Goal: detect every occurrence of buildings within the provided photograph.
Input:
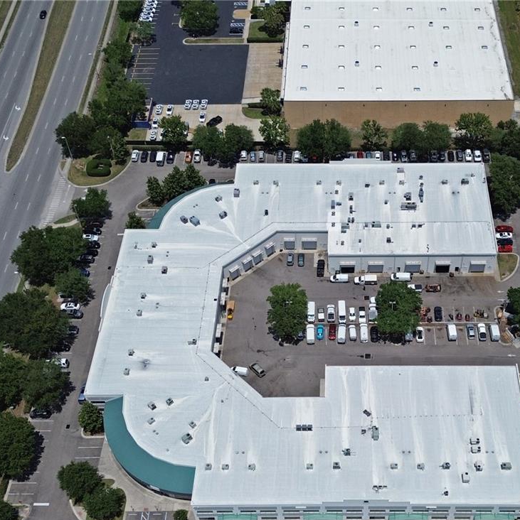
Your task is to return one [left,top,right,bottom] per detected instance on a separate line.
[282,0,513,129]
[84,160,520,520]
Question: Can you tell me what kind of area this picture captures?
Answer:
industrial area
